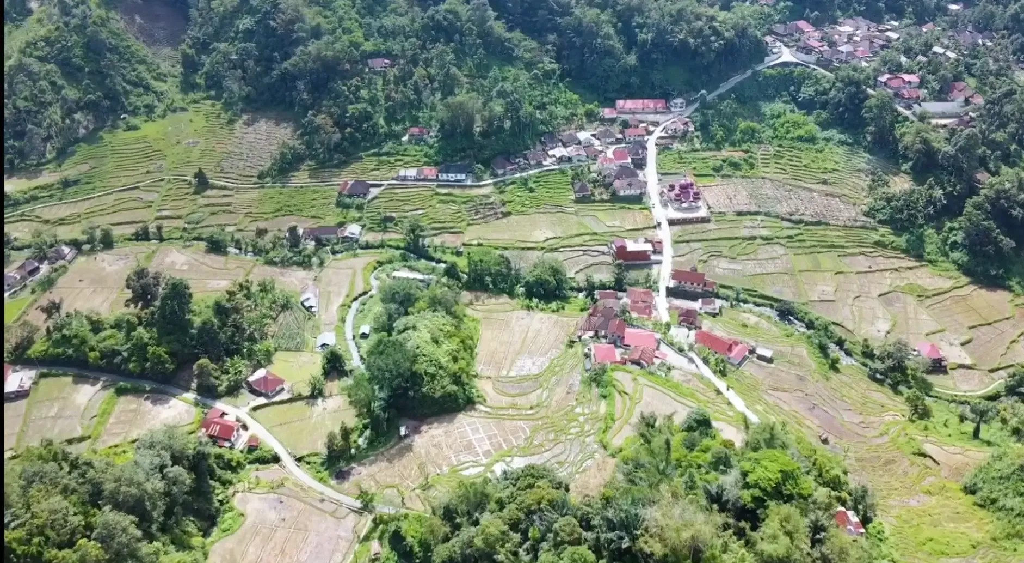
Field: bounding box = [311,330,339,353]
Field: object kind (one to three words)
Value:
barn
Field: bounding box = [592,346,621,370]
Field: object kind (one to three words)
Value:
house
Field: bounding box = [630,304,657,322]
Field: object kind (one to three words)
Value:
house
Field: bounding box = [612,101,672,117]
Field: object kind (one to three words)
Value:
building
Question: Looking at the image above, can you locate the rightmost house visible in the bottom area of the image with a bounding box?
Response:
[916,342,954,372]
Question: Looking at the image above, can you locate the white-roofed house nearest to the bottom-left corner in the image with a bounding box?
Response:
[0,369,38,401]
